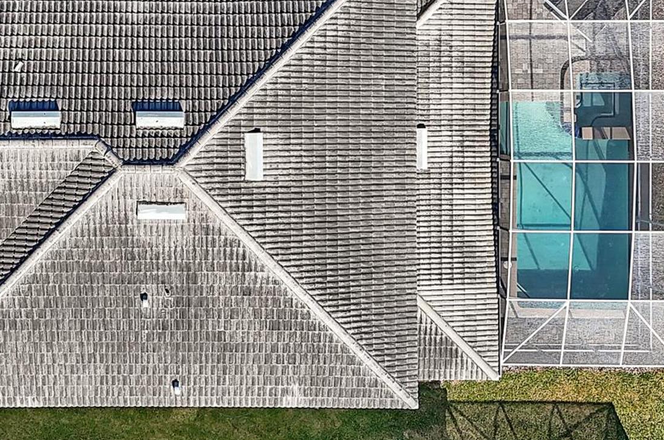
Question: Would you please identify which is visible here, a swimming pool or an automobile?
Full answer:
The one in the frame is a swimming pool.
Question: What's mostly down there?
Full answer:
For the most part, this view shows buildings.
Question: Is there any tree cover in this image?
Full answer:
No, there's no tree cover in this view.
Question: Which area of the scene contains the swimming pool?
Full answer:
The swimming pool is located in the right region of the scene.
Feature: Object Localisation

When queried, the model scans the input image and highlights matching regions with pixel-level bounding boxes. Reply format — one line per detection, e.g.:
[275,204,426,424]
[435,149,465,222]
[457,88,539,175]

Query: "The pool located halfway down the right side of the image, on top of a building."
[501,55,640,317]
